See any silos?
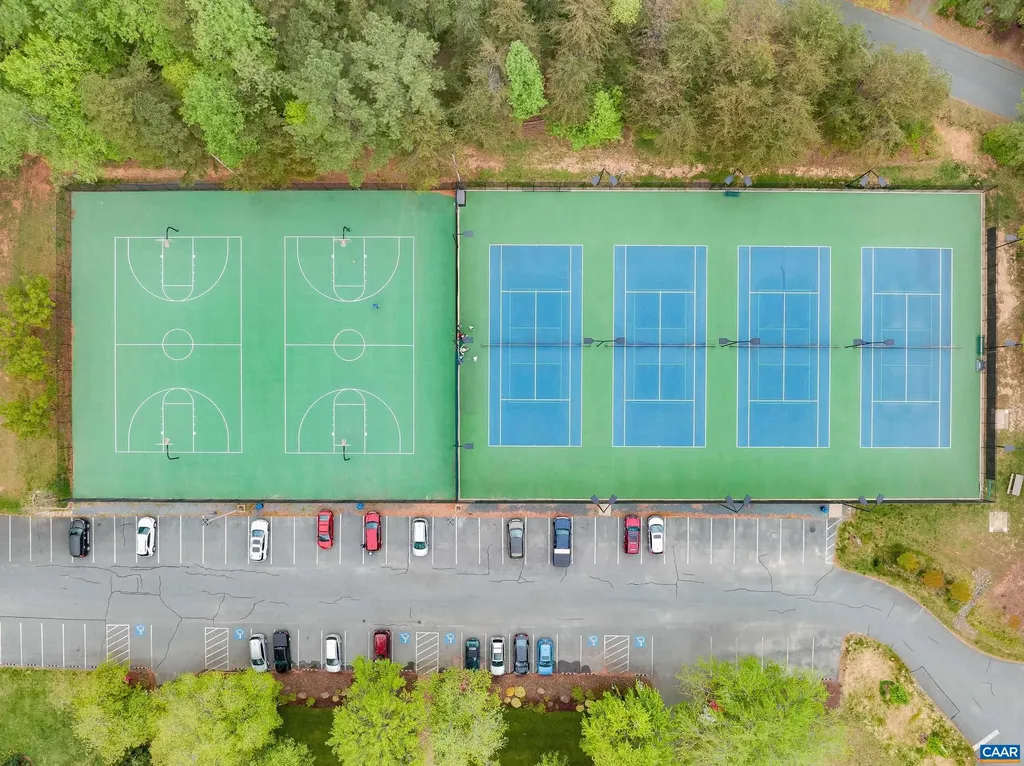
No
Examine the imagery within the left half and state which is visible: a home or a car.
car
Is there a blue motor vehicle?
Yes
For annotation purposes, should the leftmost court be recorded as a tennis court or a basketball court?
basketball court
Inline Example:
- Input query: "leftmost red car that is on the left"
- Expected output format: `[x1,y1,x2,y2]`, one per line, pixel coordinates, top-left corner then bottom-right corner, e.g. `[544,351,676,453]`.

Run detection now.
[315,509,333,550]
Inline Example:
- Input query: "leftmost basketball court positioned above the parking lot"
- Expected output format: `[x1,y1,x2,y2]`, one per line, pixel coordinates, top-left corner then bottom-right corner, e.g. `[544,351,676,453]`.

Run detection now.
[115,237,242,454]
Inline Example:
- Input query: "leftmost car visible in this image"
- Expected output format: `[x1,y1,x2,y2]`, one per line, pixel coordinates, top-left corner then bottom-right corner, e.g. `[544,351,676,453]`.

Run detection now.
[67,518,89,559]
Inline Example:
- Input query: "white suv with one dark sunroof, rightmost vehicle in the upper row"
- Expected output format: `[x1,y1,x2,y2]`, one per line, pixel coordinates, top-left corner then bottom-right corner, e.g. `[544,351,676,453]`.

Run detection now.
[648,515,667,556]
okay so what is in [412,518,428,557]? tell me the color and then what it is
white car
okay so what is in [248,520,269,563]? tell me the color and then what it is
white car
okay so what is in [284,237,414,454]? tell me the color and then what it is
green basketball court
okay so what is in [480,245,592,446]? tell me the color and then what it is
blue tennis court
